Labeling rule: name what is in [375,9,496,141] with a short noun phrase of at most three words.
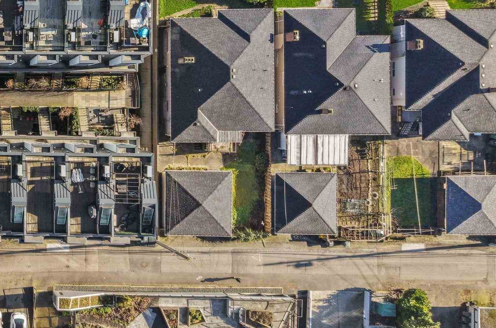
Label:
house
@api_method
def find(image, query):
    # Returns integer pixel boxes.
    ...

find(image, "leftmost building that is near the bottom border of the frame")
[370,300,394,316]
